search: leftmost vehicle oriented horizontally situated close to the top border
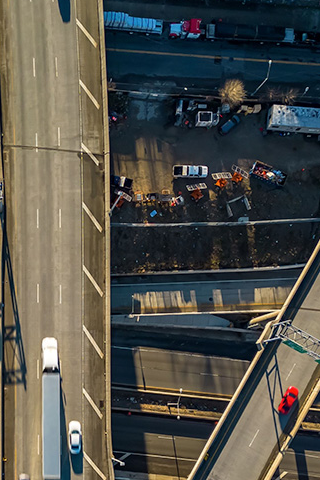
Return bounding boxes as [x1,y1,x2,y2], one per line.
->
[106,15,205,42]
